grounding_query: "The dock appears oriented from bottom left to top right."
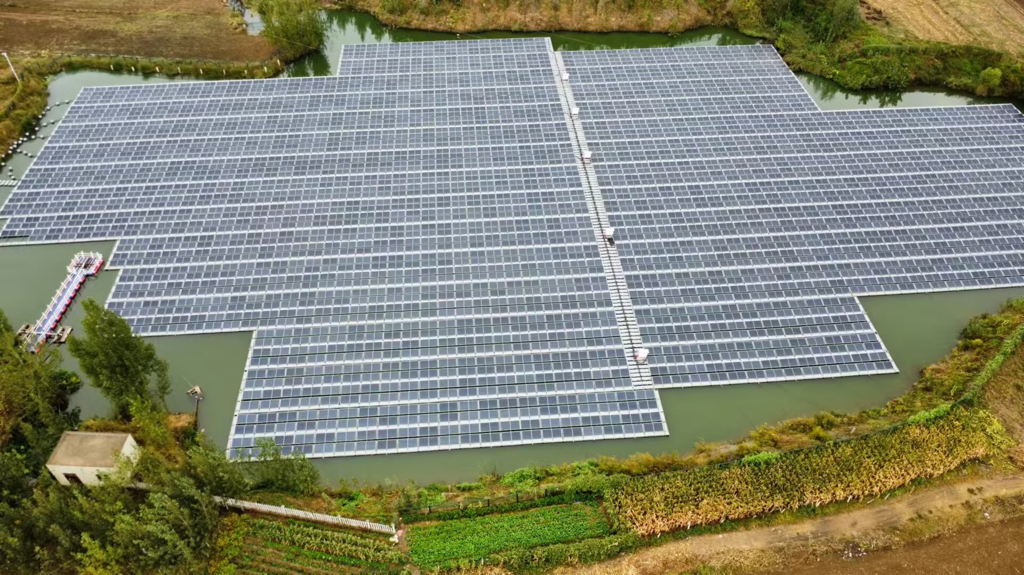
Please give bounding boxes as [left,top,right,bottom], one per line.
[23,249,105,352]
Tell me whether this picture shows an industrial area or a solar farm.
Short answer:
solar farm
